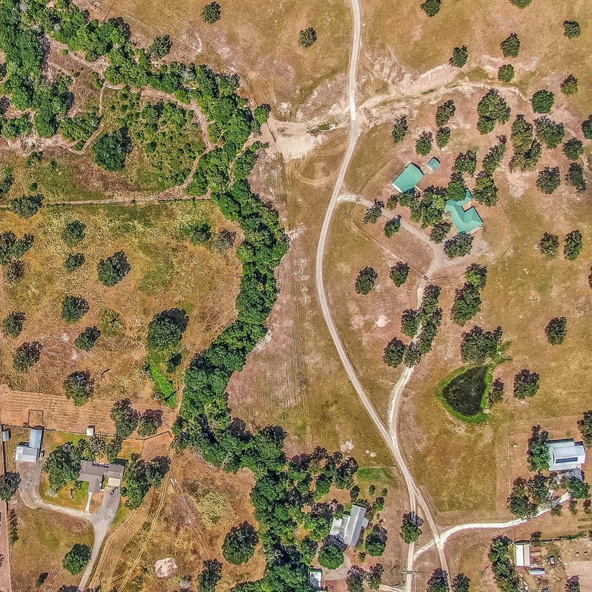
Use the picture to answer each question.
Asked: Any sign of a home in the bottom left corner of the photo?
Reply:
Yes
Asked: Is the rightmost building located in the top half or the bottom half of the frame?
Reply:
bottom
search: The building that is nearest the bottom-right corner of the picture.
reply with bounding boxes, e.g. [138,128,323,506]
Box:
[511,539,542,567]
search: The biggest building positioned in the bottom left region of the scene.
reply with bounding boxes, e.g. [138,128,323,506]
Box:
[80,458,125,495]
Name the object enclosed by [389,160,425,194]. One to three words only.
barn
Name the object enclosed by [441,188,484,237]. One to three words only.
house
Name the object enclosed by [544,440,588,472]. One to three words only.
building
